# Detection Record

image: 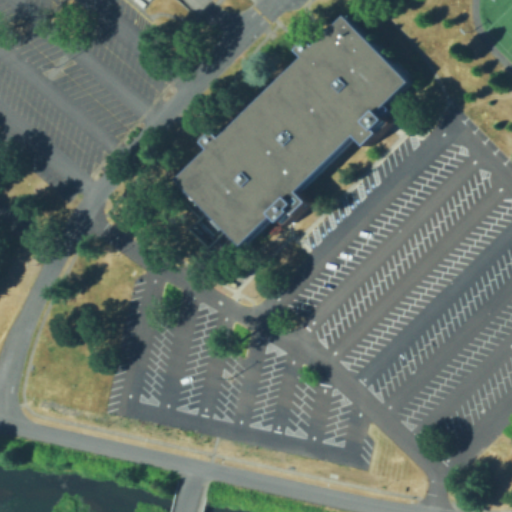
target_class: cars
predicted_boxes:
[338,252,353,260]
[180,377,194,386]
[325,282,338,290]
[324,263,338,272]
[358,232,373,240]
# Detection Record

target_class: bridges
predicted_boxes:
[172,474,211,512]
